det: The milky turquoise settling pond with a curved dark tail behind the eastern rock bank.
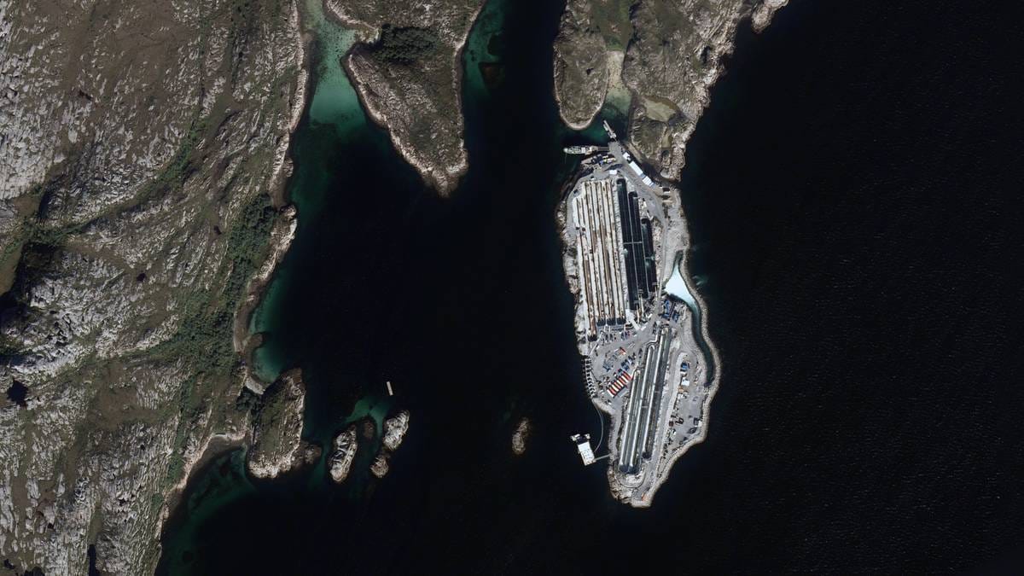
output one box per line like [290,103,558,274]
[663,248,716,383]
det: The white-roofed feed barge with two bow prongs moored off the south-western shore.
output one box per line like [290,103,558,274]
[574,435,595,466]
